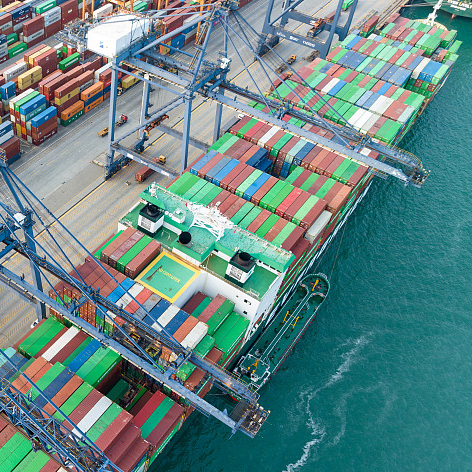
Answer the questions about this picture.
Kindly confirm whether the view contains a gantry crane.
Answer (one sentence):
Yes, you can see a gantry crane in this photo.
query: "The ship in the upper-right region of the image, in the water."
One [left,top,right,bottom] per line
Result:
[438,0,472,22]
